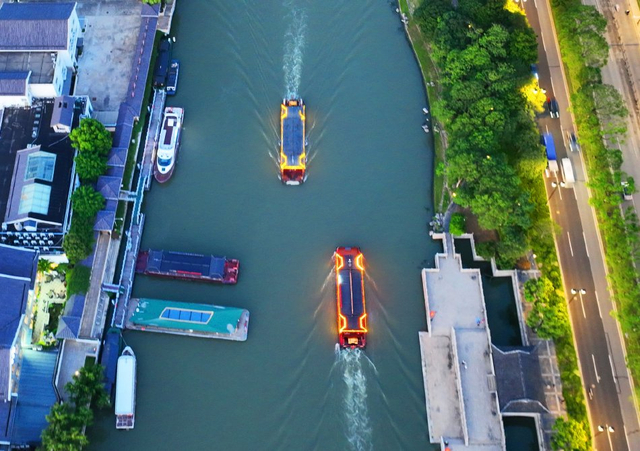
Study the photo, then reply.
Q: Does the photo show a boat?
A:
Yes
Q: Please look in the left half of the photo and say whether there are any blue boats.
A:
Yes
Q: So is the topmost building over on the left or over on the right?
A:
left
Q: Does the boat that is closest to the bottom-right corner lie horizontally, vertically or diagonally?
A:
vertically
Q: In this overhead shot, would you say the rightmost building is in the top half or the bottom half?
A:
bottom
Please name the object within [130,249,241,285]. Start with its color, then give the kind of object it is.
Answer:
blue boat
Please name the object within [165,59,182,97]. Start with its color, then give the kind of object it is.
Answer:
blue boat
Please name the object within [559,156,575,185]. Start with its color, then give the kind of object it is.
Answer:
white vehicle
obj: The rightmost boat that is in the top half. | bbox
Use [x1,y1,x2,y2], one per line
[278,97,306,184]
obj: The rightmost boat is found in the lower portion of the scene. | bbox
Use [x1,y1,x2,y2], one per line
[335,242,369,350]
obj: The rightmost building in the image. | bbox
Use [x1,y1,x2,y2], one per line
[492,341,552,414]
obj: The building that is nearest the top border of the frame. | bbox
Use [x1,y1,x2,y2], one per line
[0,1,89,68]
